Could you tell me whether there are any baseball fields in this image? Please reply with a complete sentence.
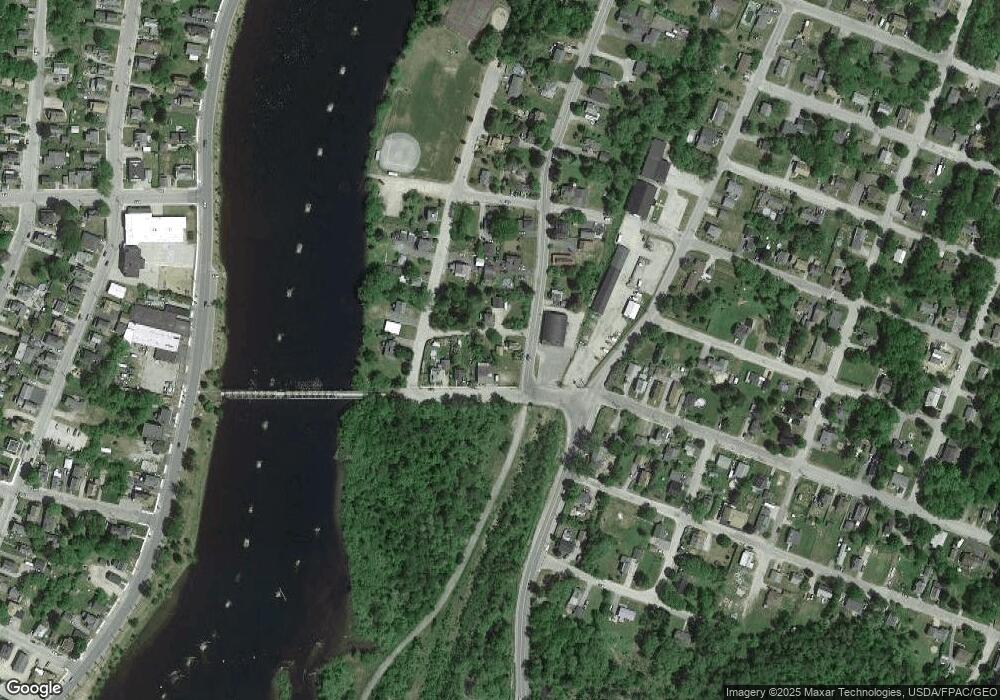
Yes, you can see a baseball field in this photo.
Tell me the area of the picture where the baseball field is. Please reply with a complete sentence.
The baseball field appears toward the top of the photo.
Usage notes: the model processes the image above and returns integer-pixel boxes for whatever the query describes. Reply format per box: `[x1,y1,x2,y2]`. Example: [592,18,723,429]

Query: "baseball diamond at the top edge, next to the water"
[379,25,480,181]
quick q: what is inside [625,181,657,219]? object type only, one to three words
building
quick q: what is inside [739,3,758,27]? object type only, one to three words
swimming pool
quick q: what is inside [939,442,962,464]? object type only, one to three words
house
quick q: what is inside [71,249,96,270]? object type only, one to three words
house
